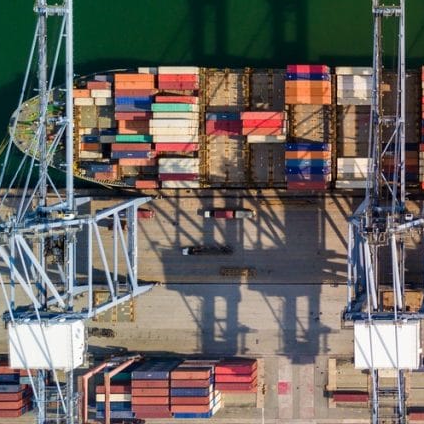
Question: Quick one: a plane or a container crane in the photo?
container crane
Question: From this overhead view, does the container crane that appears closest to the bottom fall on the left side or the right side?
left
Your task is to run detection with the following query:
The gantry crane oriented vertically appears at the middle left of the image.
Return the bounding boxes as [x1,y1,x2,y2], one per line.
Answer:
[0,0,167,424]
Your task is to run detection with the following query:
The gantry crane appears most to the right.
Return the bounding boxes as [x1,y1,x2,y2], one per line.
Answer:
[345,0,424,424]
